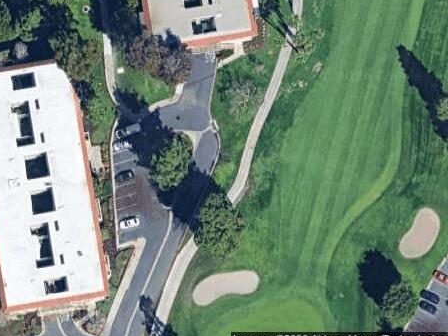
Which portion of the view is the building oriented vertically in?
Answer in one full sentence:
Look in the left portion of the view to spot the building oriented vertically.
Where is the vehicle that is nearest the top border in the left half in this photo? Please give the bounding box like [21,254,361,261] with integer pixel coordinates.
[115,125,140,139]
